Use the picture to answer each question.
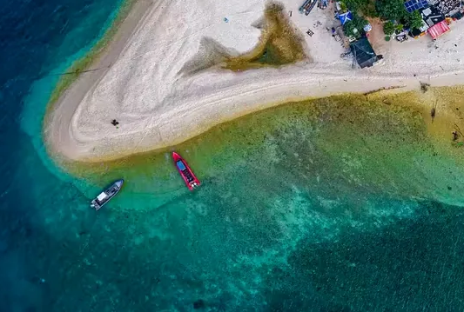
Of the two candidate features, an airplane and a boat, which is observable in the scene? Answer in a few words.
boat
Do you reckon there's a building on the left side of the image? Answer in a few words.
No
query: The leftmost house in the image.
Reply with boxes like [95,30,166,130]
[351,38,377,64]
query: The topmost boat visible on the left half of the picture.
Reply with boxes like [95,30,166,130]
[171,151,200,195]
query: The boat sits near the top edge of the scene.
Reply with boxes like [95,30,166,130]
[297,0,315,15]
